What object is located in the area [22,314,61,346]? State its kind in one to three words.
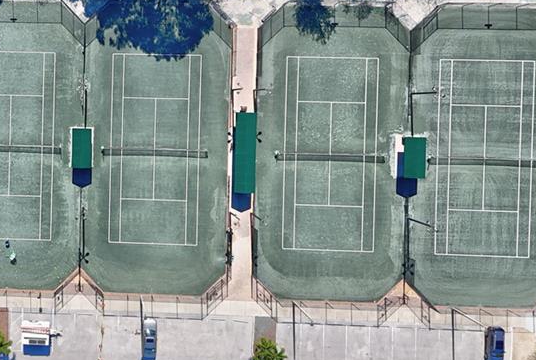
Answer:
trailer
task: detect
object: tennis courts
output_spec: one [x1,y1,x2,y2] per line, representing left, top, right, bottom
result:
[404,5,536,309]
[0,0,84,290]
[253,3,411,302]
[80,0,233,294]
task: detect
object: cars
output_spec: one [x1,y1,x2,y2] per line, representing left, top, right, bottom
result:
[484,326,507,360]
[140,319,158,359]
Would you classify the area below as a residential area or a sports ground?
sports ground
